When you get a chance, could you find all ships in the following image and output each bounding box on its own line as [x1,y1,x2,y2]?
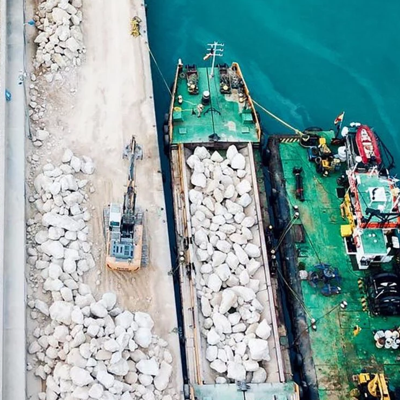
[263,119,400,400]
[163,48,305,400]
